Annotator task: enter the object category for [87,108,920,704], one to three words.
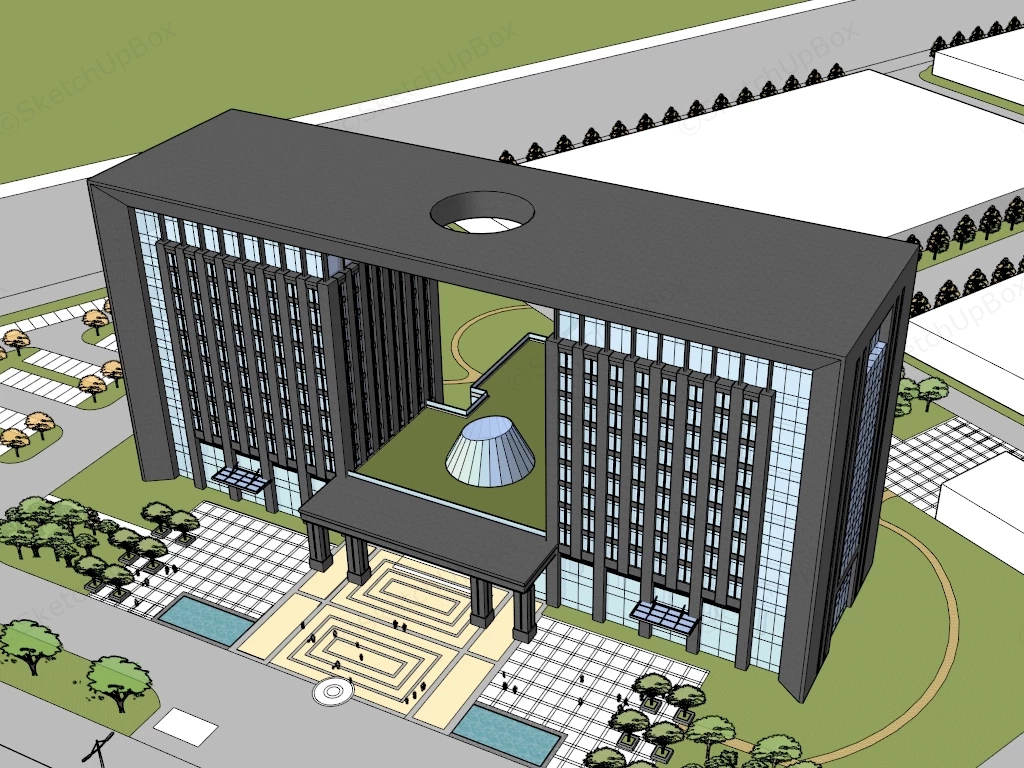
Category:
building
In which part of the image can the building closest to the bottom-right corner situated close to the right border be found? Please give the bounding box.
[935,451,1024,574]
